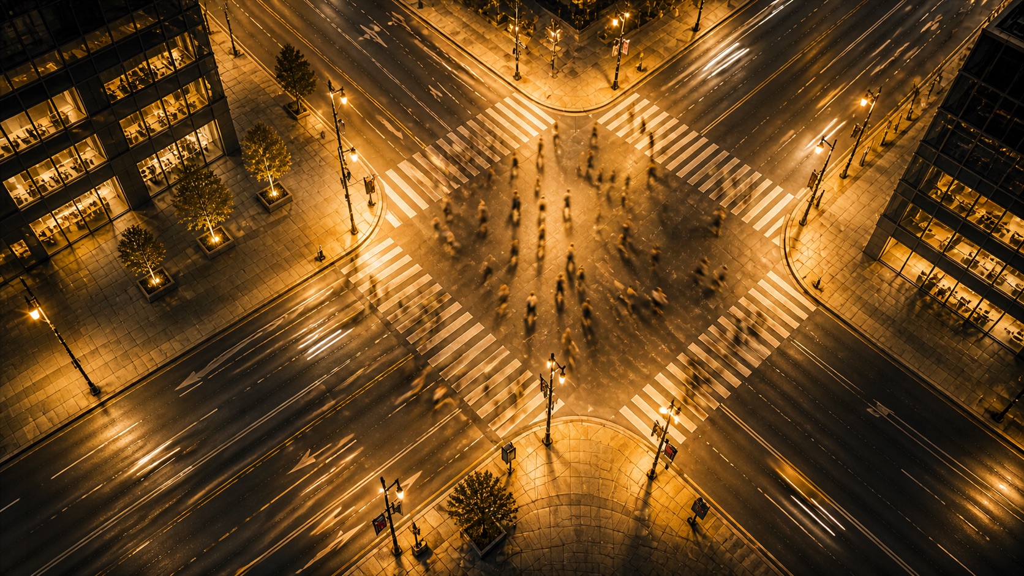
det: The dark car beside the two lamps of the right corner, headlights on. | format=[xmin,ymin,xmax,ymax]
[800,100,856,152]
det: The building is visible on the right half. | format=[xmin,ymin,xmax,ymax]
[863,0,1024,361]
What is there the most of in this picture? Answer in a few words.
paved ground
